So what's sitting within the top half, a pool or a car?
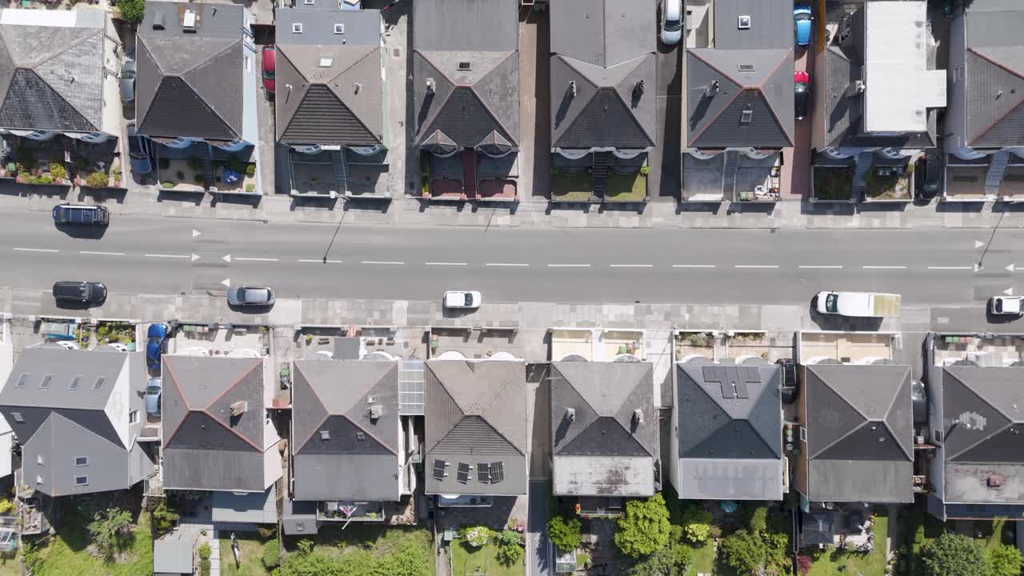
car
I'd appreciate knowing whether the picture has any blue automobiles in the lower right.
No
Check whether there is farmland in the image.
No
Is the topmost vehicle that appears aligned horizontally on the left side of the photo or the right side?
left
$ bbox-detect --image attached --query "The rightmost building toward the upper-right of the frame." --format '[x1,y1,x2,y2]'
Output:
[946,0,1024,159]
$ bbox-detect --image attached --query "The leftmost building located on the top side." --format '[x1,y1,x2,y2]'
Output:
[0,7,121,144]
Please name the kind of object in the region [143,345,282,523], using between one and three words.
house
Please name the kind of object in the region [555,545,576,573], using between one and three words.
greenhouse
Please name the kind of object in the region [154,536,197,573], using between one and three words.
shed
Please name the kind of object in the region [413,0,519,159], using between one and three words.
house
